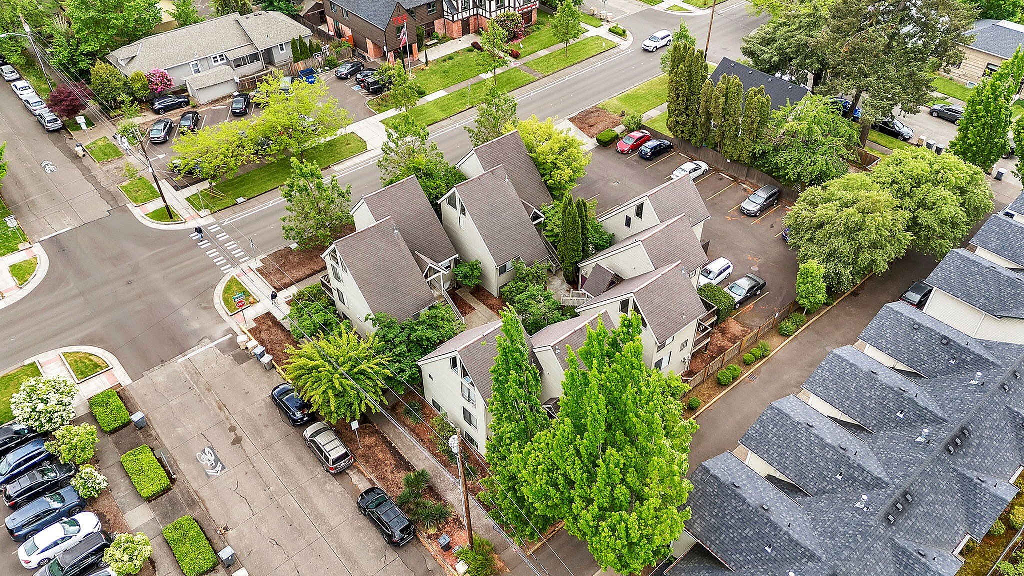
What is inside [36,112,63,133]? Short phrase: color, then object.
gray car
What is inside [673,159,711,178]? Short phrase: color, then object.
white car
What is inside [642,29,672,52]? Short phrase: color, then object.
white car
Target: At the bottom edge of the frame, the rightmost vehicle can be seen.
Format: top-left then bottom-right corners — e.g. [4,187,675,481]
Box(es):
[357,488,416,549]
